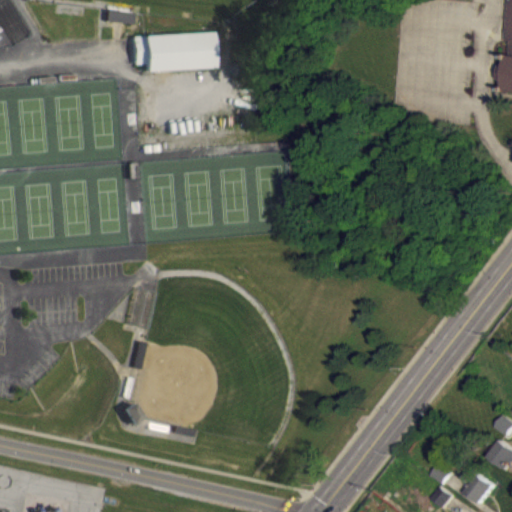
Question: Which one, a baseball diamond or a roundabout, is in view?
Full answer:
Visible in the photo is a baseball diamond.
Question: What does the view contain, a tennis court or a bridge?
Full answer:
This aerial view contains a tennis court.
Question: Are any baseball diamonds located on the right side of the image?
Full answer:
No, the scene shows no baseball diamond on the right side of the image.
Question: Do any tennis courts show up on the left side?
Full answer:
Yes, looking on the left side, one can make out a tennis court.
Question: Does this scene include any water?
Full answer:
No, there is no water in the image.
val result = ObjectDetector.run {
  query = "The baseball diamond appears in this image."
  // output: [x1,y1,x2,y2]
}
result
[132,341,218,427]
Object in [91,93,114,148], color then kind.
green tennis court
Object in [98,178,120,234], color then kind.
green tennis court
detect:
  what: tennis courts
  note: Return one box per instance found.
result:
[26,183,54,239]
[148,174,177,230]
[0,186,18,241]
[220,168,249,224]
[54,96,84,152]
[62,180,90,236]
[98,178,120,234]
[0,100,11,156]
[19,98,48,154]
[184,171,213,227]
[91,93,114,148]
